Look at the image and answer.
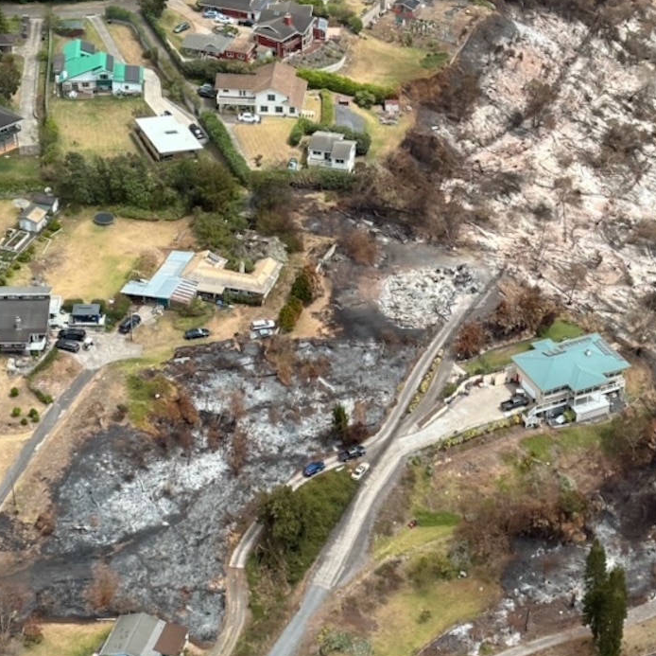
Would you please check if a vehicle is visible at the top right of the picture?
No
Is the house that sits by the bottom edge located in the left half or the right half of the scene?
left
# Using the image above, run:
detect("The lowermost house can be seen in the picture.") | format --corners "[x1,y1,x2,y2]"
[100,611,197,656]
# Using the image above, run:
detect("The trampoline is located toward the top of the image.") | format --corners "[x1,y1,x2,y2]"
[92,212,115,226]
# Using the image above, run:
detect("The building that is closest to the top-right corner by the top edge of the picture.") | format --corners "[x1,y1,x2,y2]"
[395,0,424,20]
